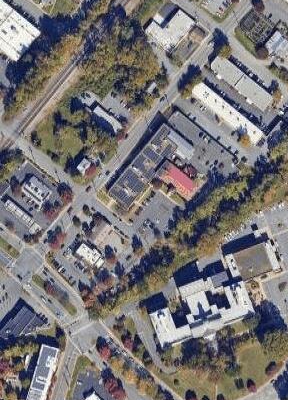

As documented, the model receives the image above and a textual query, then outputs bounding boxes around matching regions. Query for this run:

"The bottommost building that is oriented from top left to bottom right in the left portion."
[76,244,104,269]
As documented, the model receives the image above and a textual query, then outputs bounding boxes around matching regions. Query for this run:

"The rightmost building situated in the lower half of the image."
[226,241,281,282]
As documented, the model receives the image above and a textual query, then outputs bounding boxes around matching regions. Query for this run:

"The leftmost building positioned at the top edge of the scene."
[0,1,40,63]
